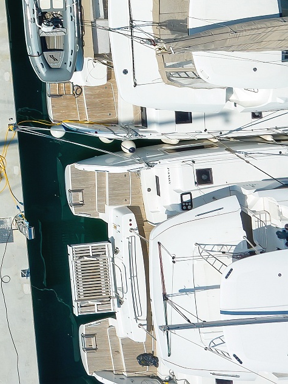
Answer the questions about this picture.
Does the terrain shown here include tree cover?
No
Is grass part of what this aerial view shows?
No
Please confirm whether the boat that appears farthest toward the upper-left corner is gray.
Yes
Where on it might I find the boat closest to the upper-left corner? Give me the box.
[23,0,104,83]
